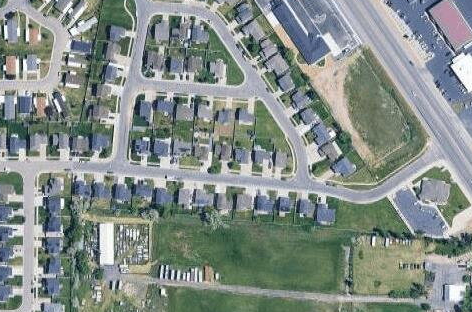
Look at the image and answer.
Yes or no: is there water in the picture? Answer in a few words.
No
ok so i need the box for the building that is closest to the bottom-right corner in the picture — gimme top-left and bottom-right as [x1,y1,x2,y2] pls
[446,285,467,301]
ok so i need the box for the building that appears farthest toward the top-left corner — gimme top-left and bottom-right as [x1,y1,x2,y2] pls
[4,19,21,42]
